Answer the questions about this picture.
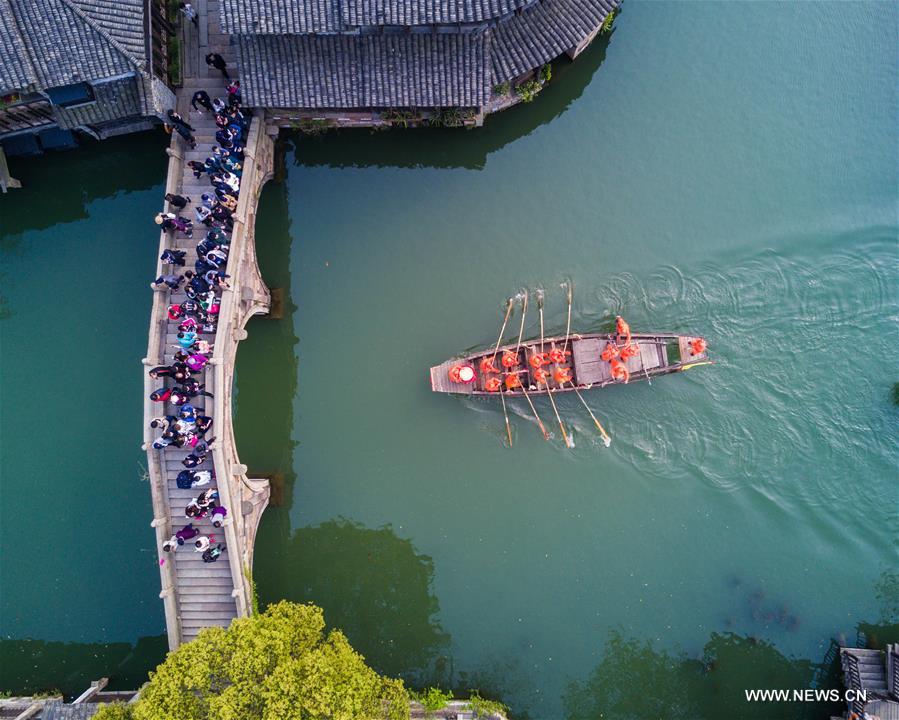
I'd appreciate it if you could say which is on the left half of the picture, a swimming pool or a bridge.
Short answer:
bridge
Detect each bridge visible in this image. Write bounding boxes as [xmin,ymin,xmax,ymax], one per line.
[138,104,285,679]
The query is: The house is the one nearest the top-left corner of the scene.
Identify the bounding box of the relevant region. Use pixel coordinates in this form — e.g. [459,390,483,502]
[0,0,176,164]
